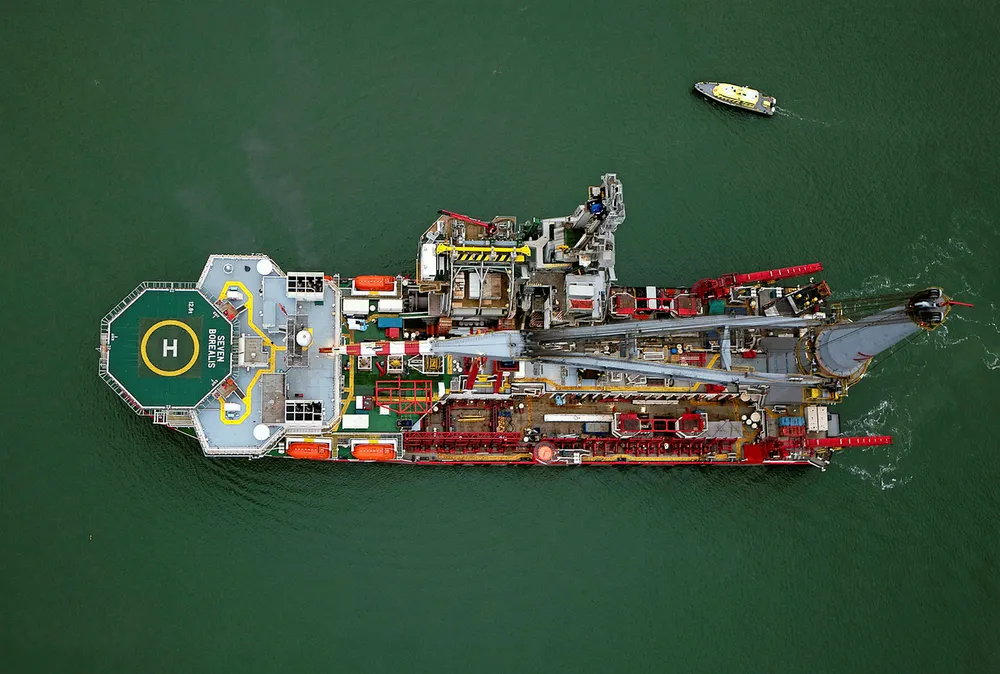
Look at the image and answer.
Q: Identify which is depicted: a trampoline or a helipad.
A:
helipad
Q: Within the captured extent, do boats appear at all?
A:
Yes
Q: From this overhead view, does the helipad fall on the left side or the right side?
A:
left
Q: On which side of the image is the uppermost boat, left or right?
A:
right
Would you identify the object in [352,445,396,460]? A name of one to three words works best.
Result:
boat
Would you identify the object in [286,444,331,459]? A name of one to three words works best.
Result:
boat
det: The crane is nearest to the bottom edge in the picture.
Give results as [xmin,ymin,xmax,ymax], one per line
[759,432,892,462]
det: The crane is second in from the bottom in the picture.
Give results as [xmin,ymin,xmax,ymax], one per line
[341,285,974,392]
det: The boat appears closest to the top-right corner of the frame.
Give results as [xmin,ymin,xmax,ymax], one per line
[695,79,781,119]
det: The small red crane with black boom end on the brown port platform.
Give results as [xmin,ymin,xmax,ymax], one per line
[438,209,500,236]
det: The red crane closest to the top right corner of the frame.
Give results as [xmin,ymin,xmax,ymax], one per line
[690,263,823,306]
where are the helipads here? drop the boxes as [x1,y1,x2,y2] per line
[96,282,249,427]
